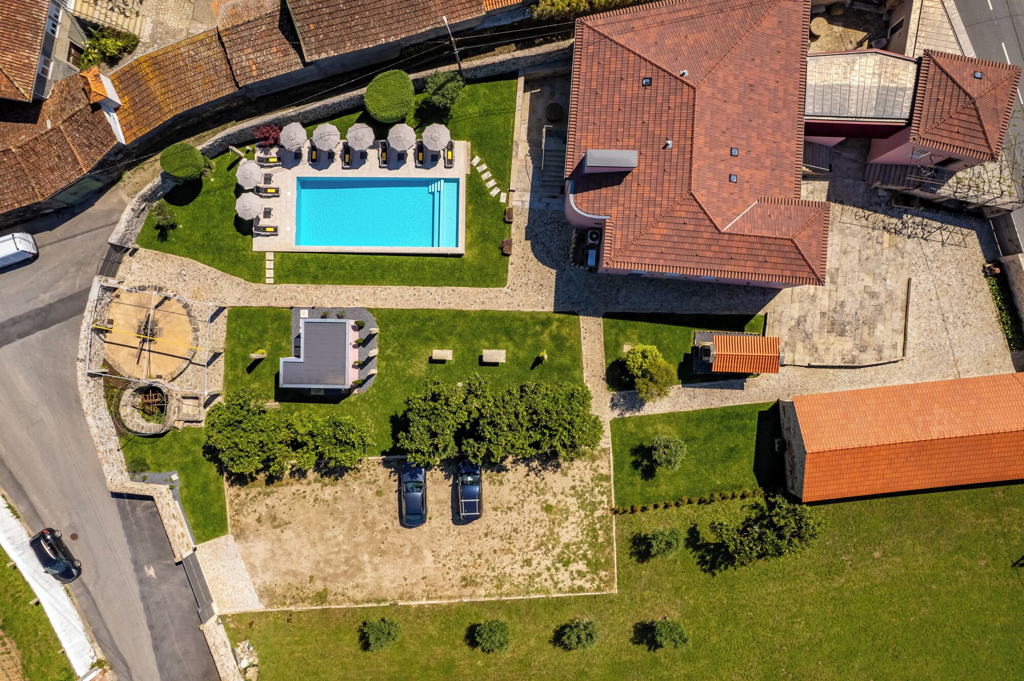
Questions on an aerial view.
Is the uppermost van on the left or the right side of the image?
left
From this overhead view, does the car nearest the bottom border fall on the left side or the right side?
left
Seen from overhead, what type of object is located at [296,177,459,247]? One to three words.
swimming pool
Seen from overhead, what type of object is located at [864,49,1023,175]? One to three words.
house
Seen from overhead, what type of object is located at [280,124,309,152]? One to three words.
umbrella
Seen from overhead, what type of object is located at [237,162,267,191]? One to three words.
umbrella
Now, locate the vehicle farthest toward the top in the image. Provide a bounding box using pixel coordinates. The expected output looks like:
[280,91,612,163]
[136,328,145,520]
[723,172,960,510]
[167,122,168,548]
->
[0,232,36,270]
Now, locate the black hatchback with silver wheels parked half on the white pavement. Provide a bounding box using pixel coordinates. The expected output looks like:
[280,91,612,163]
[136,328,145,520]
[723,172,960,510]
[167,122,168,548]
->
[31,527,84,584]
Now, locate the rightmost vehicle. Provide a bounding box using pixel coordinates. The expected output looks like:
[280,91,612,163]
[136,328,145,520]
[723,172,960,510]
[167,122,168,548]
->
[455,460,484,524]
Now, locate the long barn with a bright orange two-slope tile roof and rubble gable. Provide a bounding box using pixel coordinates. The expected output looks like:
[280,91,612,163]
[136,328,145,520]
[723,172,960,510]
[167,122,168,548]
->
[779,374,1024,510]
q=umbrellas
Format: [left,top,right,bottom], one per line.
[423,123,451,152]
[237,162,267,191]
[314,123,343,152]
[349,124,377,153]
[389,125,418,154]
[280,124,309,152]
[236,192,265,221]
